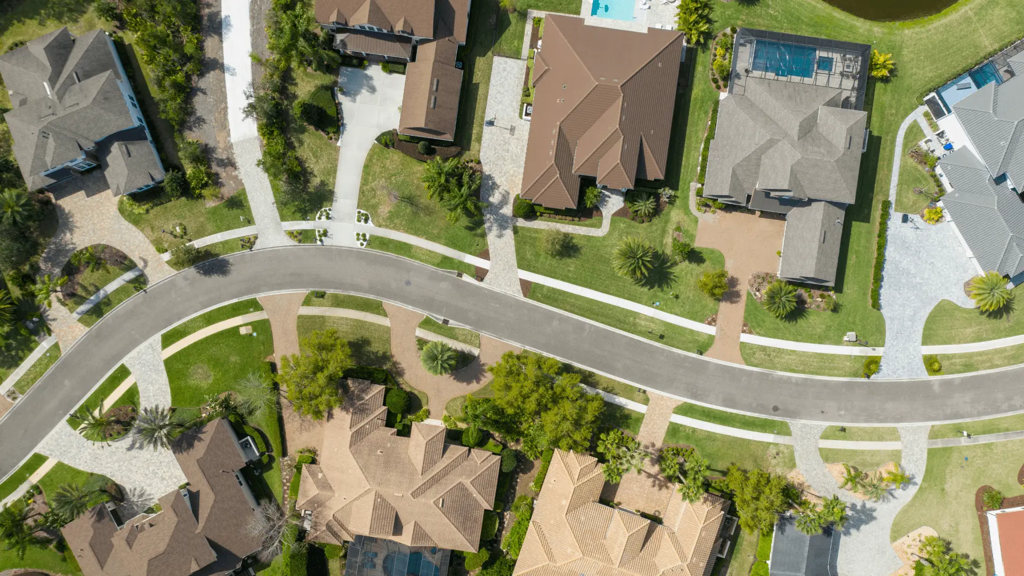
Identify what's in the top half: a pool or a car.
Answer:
pool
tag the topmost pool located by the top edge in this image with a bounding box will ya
[588,0,637,23]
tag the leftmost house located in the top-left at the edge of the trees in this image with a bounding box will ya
[0,27,168,197]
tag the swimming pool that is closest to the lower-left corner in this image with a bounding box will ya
[381,552,442,576]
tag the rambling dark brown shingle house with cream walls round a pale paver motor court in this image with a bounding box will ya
[60,416,265,576]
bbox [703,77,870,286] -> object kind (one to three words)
house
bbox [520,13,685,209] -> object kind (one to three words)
house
